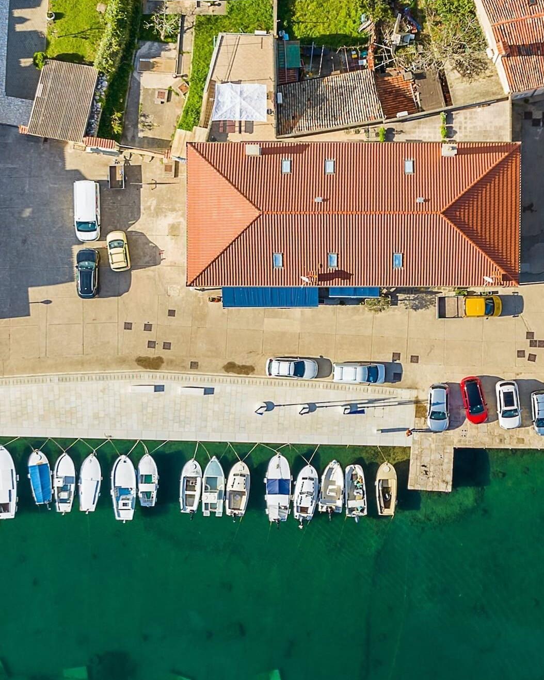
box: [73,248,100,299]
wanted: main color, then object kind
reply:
black car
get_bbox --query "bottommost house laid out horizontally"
[185,140,522,309]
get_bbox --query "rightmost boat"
[374,462,398,515]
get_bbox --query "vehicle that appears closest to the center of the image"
[266,356,318,381]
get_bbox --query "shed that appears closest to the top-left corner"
[29,60,101,143]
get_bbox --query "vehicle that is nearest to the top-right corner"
[437,295,501,320]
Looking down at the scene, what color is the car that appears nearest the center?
white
